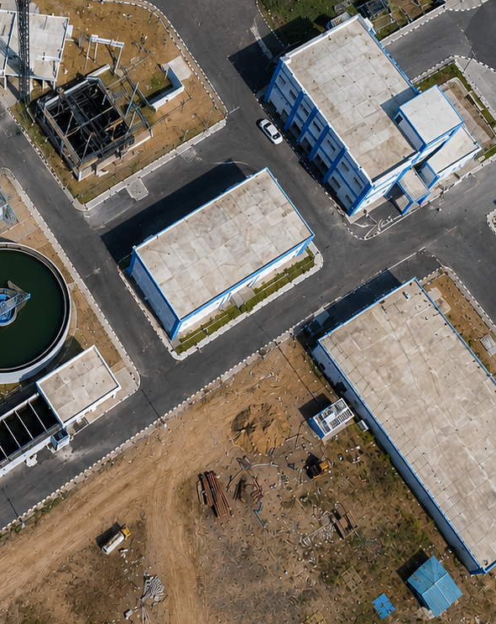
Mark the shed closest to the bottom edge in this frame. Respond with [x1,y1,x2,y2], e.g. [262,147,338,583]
[401,557,463,617]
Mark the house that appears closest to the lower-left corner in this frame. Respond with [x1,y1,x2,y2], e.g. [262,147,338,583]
[37,347,122,430]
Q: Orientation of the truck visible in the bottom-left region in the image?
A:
diagonally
